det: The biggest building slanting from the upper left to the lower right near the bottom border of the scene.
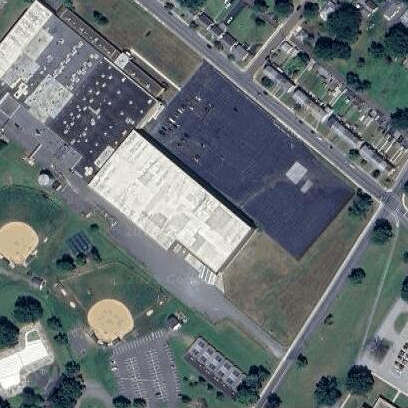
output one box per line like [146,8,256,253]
[187,337,248,390]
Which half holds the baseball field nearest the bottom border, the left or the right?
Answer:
left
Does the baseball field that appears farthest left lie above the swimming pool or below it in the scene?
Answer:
above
